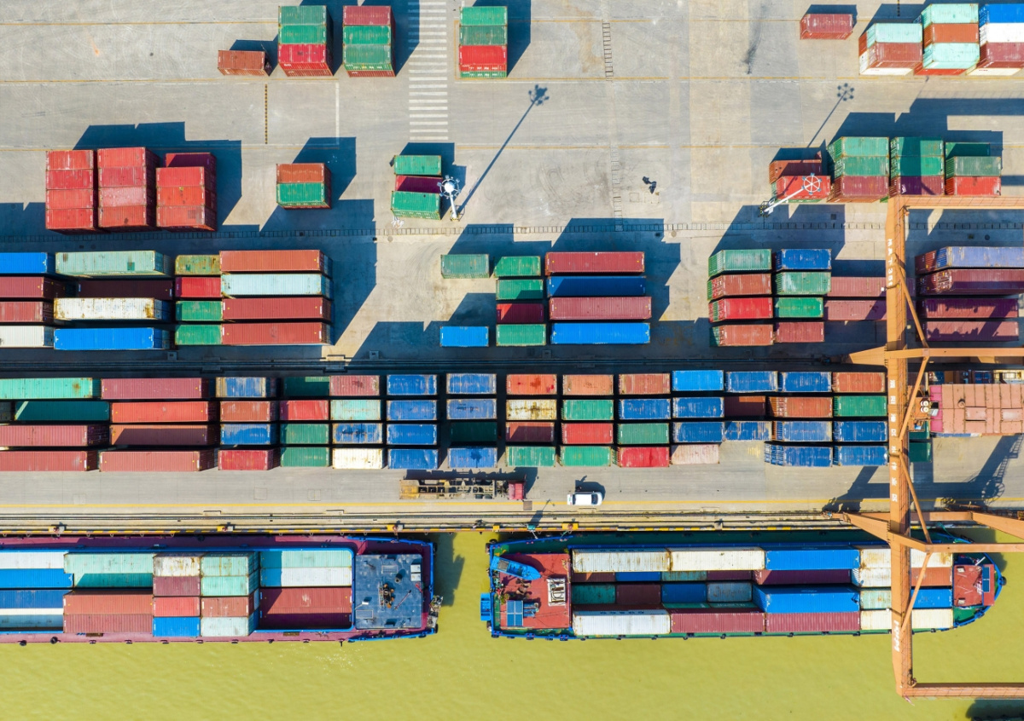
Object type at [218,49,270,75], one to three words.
shipping container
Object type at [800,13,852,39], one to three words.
shipping container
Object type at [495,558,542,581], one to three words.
boat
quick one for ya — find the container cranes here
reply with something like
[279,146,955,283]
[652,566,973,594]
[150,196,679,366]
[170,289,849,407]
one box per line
[814,194,1024,701]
